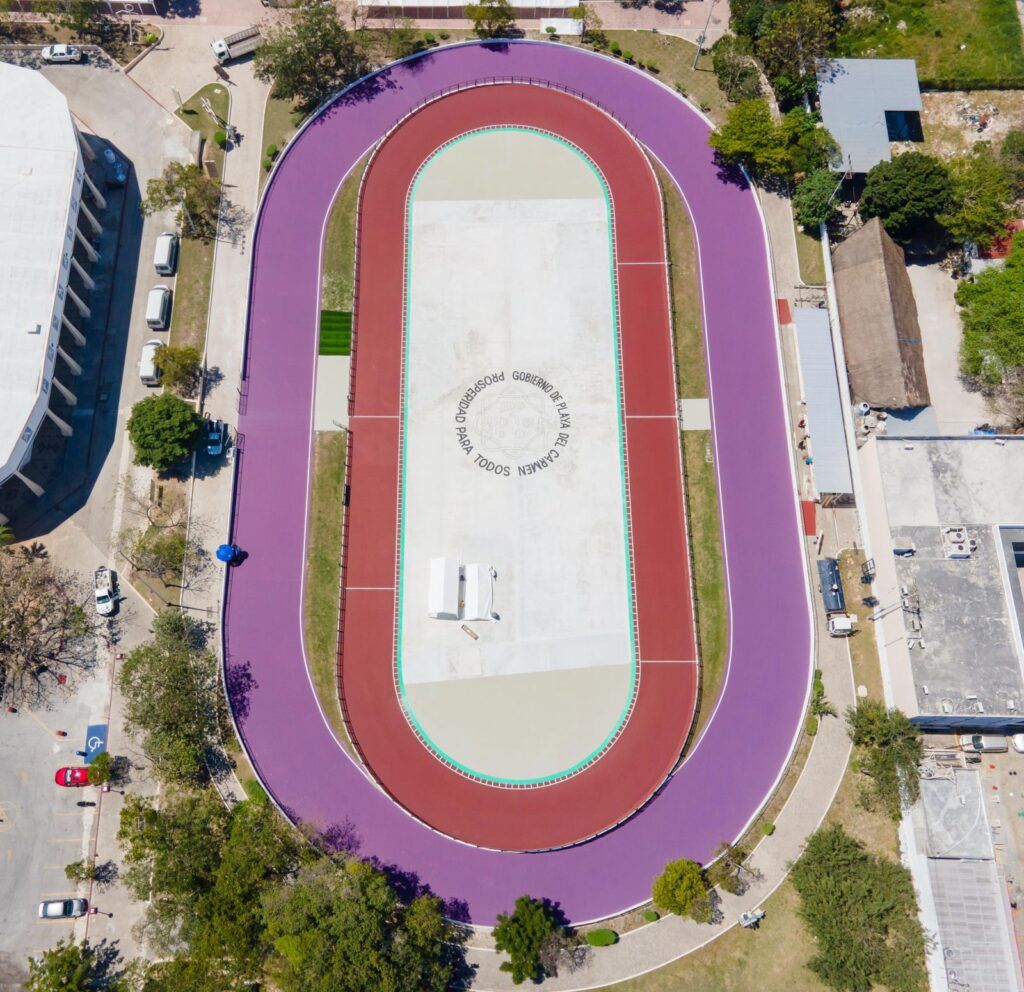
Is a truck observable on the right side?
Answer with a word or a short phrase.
Yes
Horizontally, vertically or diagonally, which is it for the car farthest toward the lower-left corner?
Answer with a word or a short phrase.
horizontally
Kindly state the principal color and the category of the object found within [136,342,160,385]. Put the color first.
white vehicle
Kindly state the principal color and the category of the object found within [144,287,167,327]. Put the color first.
white vehicle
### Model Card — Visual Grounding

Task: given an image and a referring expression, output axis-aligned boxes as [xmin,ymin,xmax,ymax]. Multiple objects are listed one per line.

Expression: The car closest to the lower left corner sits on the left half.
[33,897,86,923]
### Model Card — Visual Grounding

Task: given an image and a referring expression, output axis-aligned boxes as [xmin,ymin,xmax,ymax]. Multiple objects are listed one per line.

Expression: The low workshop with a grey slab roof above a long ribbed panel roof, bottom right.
[904,768,1024,992]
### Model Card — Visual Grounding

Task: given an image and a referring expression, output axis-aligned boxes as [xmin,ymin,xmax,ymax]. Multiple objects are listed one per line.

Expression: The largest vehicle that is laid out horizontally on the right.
[959,732,1014,755]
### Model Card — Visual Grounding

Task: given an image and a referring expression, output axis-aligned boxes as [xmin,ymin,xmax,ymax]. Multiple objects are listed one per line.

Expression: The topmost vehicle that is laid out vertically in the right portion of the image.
[816,558,857,635]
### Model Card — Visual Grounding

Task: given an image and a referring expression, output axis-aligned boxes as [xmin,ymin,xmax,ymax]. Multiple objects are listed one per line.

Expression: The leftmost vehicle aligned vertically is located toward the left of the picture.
[89,565,115,617]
